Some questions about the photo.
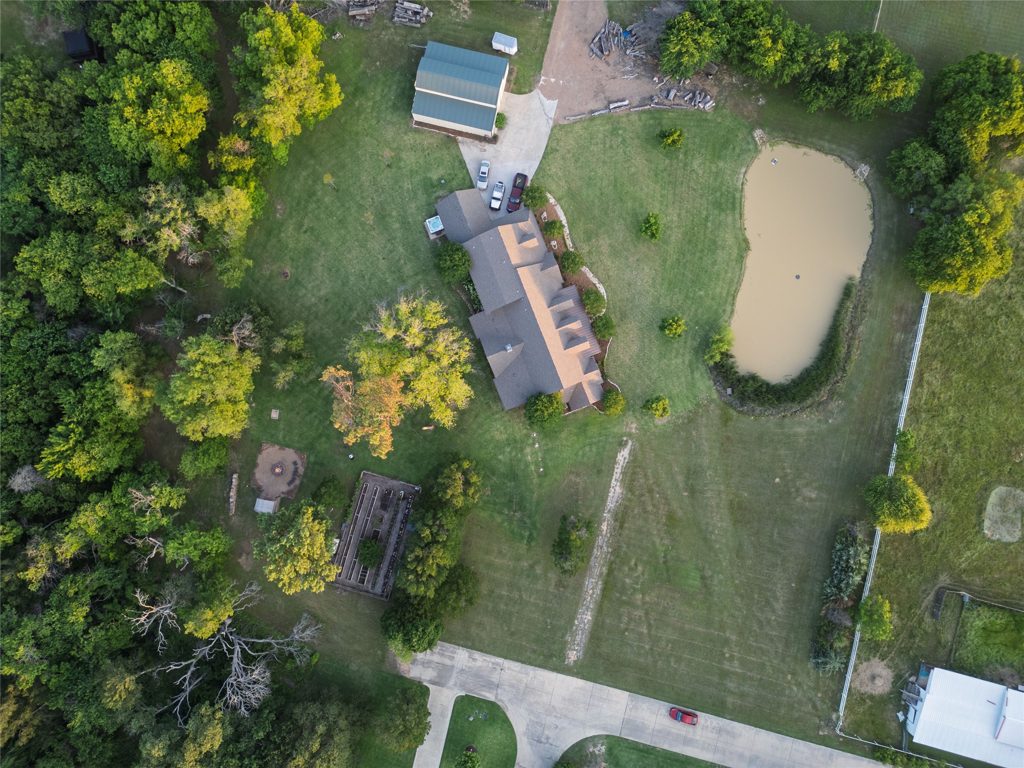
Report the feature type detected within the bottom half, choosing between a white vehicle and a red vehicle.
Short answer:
red vehicle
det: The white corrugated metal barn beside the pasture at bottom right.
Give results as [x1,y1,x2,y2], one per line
[904,667,1024,768]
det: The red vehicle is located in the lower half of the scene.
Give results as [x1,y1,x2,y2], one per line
[670,707,698,726]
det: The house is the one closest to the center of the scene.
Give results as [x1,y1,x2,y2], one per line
[435,188,604,410]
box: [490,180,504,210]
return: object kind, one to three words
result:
car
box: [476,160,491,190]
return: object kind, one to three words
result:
car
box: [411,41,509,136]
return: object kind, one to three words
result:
barn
